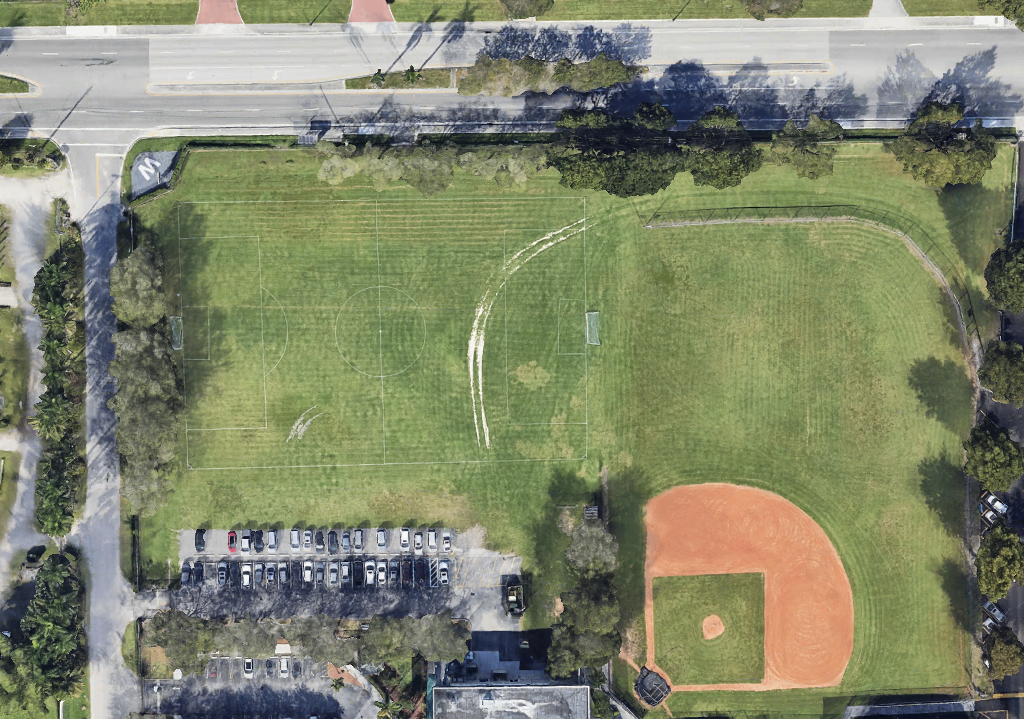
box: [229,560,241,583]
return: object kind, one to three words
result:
vehicle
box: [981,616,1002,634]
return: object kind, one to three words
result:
car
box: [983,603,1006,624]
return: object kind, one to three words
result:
car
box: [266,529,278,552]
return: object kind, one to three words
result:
vehicle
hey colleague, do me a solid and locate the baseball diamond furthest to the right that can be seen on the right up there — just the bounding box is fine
[613,216,979,719]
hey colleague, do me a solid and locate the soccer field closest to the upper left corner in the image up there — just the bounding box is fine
[175,195,591,472]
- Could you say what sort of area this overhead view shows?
sports ground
